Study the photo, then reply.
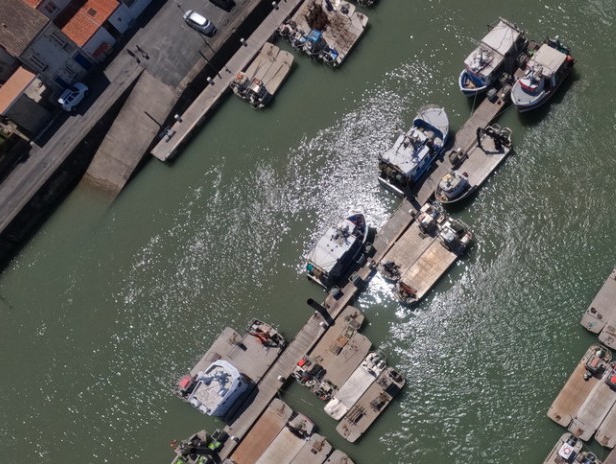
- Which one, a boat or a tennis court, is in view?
boat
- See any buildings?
Yes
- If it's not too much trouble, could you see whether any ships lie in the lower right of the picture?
Yes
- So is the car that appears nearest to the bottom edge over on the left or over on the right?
left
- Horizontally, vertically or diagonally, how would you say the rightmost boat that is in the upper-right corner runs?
diagonally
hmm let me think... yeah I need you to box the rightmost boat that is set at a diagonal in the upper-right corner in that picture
[516,36,581,113]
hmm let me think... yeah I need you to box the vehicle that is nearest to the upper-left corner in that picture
[58,83,93,115]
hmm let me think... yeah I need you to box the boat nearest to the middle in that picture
[304,211,367,292]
